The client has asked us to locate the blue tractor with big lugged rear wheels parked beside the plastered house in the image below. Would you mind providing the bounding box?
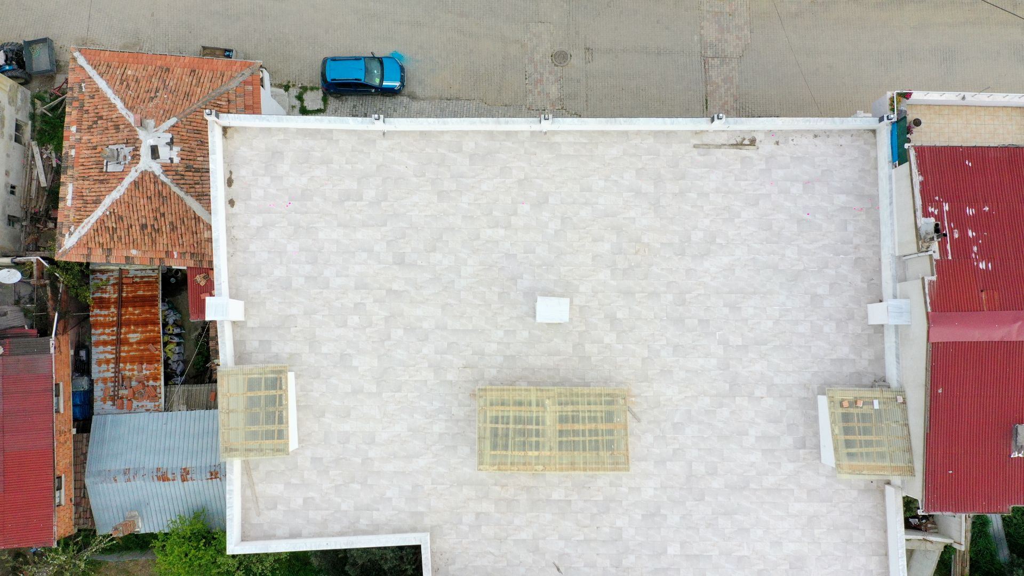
[0,38,35,88]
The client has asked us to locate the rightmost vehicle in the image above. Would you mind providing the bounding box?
[319,50,406,99]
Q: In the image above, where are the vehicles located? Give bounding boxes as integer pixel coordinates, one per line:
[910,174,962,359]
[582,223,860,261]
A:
[319,50,406,99]
[0,38,35,88]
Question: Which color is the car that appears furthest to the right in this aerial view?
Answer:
blue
